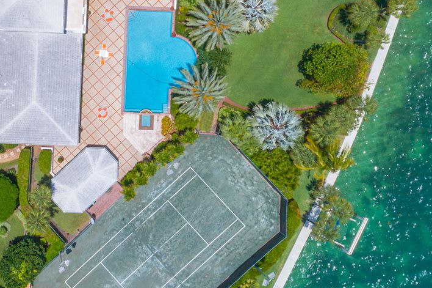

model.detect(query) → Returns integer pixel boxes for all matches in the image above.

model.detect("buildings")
[0,0,86,144]
[51,146,119,213]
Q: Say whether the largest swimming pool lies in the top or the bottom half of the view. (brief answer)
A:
top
